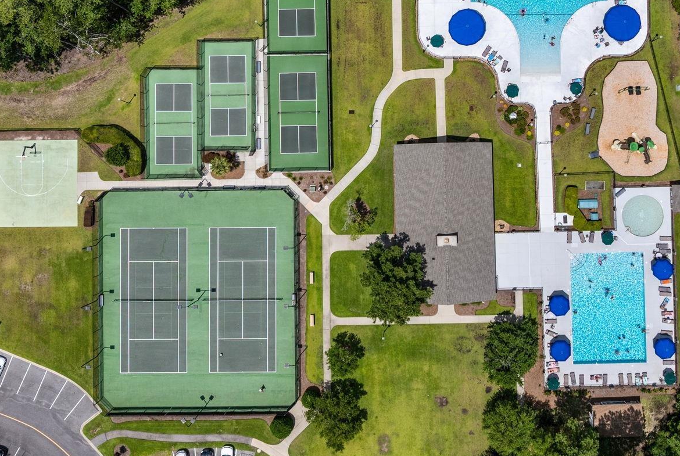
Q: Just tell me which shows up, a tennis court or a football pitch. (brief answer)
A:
tennis court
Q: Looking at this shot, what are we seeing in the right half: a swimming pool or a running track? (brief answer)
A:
swimming pool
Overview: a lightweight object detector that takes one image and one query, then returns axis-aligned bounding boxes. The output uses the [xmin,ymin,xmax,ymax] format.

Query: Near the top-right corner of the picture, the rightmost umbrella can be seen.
[603,3,640,41]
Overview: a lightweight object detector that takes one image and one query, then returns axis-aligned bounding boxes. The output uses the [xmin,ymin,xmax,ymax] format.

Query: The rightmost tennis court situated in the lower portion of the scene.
[201,227,282,372]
